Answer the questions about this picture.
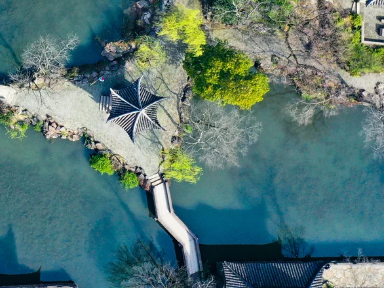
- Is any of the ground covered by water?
Yes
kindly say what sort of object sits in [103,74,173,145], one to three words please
building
